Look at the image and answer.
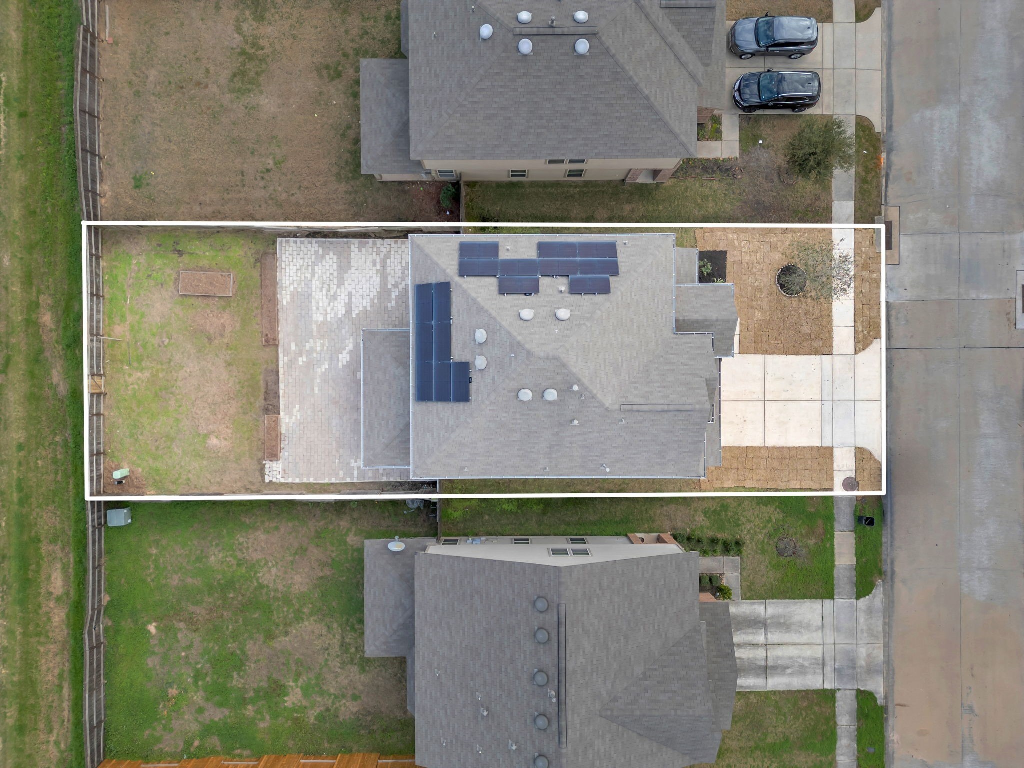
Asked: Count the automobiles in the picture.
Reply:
two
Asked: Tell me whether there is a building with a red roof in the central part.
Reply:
No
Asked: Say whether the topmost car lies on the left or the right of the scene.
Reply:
right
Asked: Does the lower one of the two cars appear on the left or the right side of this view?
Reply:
right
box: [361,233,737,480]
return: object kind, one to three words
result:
house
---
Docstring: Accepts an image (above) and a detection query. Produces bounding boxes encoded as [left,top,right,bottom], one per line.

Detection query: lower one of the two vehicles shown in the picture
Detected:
[732,64,822,113]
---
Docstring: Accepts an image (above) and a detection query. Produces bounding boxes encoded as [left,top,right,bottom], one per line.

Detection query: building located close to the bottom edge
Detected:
[363,532,738,768]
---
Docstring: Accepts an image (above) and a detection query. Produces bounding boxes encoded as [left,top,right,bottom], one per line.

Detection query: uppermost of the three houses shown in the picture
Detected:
[359,0,727,185]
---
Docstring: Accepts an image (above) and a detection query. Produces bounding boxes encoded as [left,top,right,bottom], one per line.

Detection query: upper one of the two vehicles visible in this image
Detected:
[728,9,819,59]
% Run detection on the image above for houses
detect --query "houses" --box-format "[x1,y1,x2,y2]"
[359,0,727,185]
[361,233,737,480]
[363,532,738,768]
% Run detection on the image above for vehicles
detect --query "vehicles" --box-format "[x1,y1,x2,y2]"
[732,64,822,113]
[728,9,819,59]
